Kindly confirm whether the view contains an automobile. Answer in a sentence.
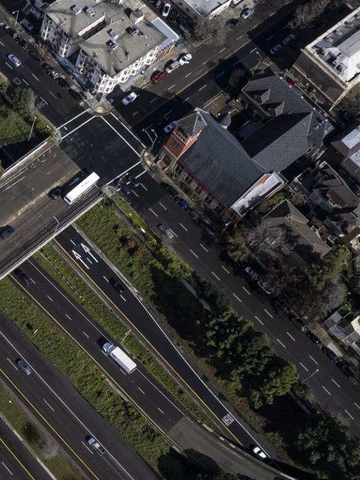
Yes, there's an automobile down there.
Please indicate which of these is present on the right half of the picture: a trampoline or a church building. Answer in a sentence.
The feature located on the right half of the picture is a church building.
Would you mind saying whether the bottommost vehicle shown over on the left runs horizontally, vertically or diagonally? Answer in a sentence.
In this picture, the bottommost vehicle shown over on the left is oriented diagonally.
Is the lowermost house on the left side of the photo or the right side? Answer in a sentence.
You can find the lowermost house on the right side of the picture.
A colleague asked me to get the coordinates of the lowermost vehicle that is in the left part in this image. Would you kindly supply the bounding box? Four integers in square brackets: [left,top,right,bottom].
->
[86,435,106,456]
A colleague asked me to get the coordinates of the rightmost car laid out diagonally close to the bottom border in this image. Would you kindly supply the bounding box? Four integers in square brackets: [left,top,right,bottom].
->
[251,443,268,461]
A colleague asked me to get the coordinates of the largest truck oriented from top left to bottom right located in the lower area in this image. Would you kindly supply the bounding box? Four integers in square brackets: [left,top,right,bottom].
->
[105,343,135,375]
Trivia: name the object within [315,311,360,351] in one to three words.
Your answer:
house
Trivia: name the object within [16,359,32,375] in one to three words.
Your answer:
car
